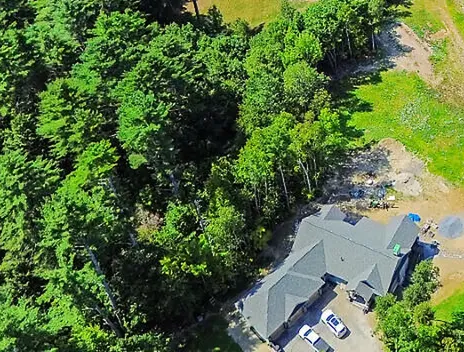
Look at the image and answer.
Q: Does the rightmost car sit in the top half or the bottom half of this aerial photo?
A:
bottom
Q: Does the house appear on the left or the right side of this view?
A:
right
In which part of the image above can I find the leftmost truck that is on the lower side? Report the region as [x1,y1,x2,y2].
[298,320,332,352]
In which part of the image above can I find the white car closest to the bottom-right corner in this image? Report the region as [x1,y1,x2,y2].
[321,307,349,337]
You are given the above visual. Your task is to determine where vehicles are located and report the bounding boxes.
[298,320,332,352]
[321,307,349,337]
